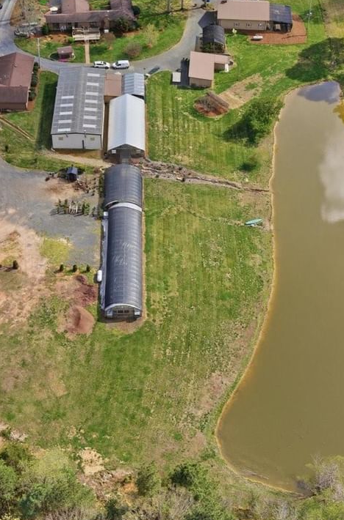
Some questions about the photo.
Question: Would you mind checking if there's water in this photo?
Yes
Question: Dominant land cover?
grass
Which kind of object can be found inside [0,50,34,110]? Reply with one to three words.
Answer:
building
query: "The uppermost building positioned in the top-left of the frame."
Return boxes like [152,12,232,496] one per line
[44,0,136,45]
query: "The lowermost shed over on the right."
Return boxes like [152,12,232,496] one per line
[188,48,229,86]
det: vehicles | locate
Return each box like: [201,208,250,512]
[92,60,110,68]
[112,60,131,70]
